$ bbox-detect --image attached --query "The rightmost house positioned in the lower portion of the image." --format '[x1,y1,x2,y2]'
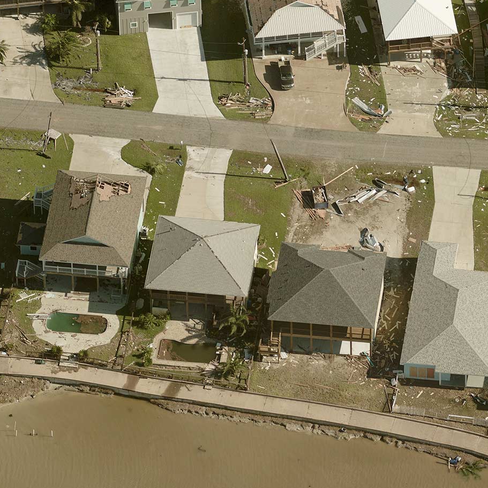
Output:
[396,241,488,393]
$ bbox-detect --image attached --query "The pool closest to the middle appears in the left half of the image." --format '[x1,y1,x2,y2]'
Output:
[150,319,236,367]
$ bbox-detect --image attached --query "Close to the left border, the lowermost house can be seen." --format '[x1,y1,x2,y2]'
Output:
[16,170,148,299]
